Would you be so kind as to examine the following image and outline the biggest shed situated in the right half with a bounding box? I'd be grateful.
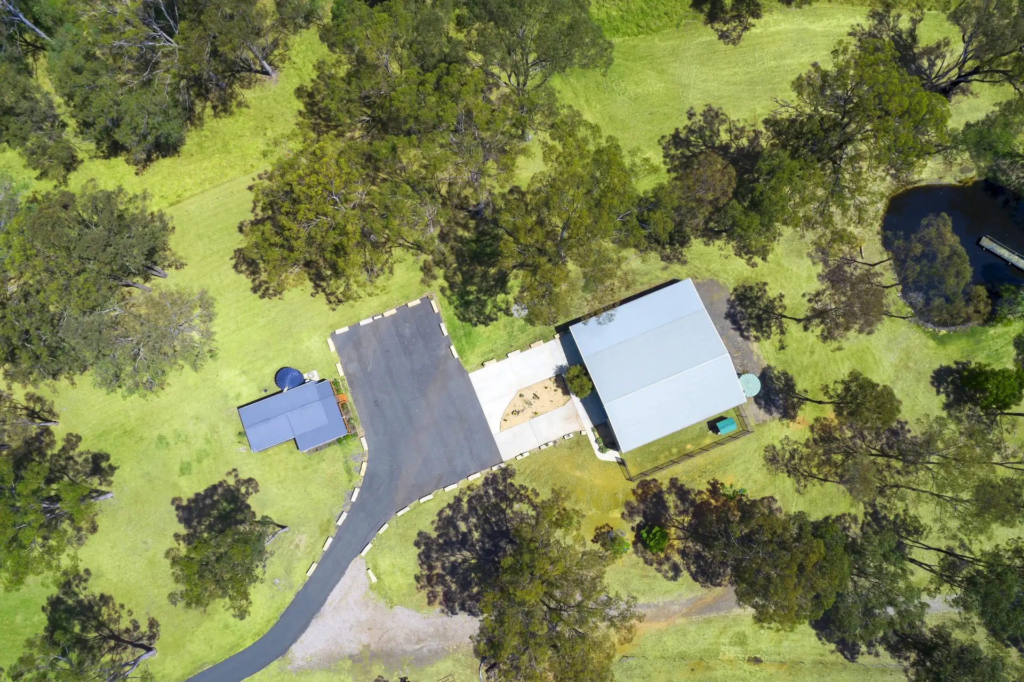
[568,277,748,454]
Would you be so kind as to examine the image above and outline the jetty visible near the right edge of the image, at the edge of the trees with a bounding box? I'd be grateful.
[976,235,1024,268]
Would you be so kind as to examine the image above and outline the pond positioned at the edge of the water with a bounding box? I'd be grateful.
[883,177,1024,325]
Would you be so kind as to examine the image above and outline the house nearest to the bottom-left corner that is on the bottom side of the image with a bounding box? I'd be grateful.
[238,380,352,453]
